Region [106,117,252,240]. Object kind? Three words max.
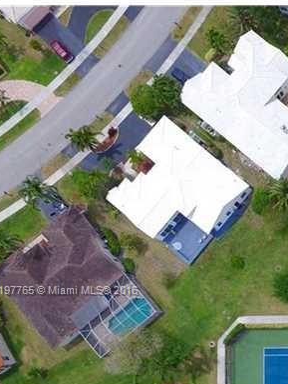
house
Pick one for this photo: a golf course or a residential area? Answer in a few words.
residential area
